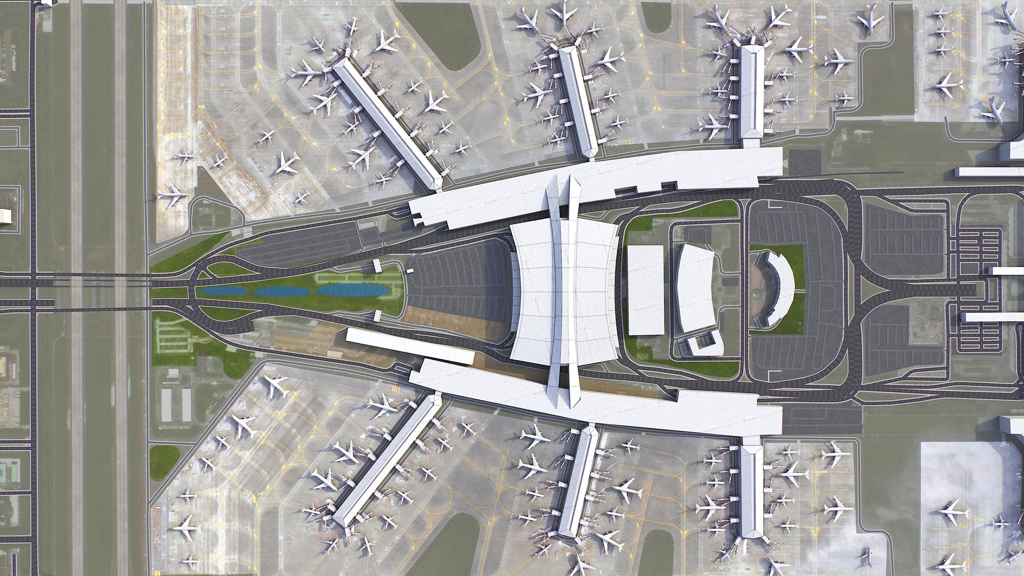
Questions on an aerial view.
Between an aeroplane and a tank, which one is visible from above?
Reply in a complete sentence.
There is an aeroplane in the scene.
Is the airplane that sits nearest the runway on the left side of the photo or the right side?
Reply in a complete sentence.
You can find the airplane that sits nearest the runway on the left side of the picture.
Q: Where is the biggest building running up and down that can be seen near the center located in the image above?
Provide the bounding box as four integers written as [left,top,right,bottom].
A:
[510,175,619,409]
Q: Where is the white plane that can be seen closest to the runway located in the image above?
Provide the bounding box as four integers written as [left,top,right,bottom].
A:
[159,181,190,208]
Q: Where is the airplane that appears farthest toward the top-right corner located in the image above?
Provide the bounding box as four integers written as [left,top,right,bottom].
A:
[996,0,1020,30]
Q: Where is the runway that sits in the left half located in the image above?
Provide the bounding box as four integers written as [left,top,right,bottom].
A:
[71,0,157,576]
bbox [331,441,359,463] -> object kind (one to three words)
airplane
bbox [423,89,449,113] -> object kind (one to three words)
airplane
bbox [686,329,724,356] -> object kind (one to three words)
building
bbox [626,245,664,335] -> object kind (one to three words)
building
